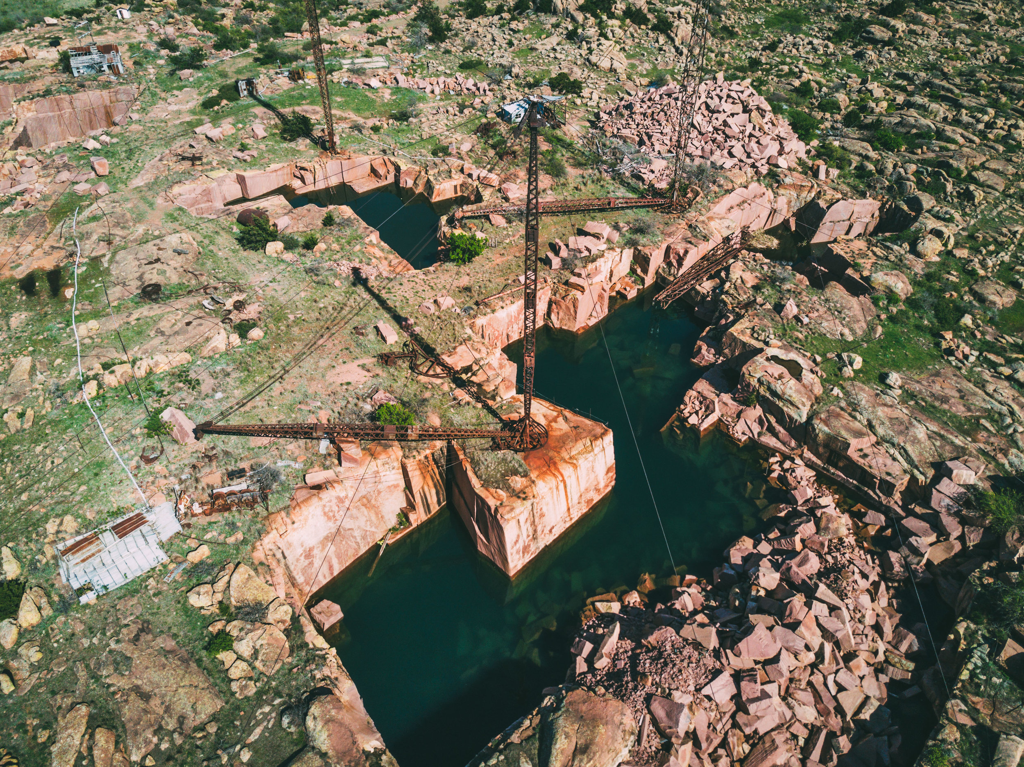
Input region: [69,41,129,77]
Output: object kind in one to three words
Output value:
shed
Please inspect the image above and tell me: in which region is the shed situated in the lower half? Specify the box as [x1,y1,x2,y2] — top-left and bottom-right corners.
[55,505,167,602]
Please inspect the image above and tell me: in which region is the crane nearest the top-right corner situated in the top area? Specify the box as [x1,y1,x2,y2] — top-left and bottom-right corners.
[454,0,712,231]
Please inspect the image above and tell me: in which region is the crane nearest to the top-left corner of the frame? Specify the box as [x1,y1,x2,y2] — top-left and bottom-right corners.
[303,0,343,154]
